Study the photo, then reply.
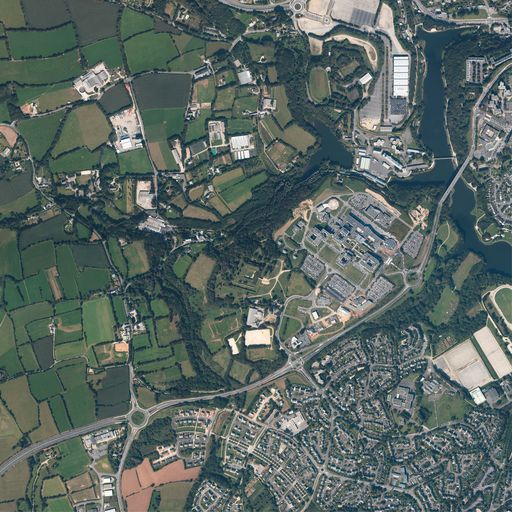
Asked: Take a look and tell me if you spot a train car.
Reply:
No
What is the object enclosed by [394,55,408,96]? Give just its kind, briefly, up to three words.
building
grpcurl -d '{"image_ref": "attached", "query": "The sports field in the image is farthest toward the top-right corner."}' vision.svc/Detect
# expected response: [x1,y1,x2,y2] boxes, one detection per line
[310,66,330,104]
